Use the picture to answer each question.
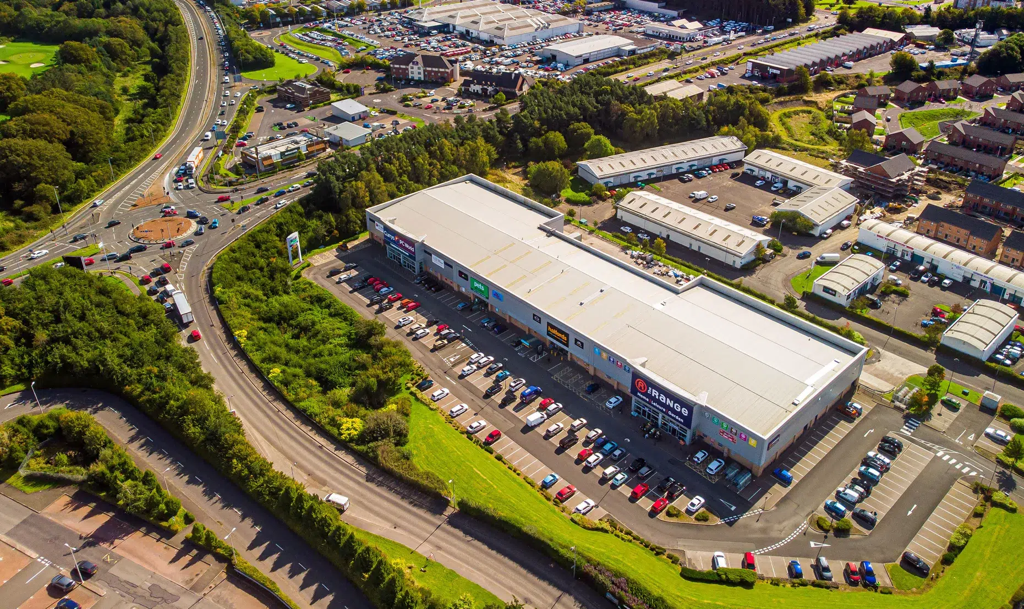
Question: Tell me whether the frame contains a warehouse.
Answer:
Yes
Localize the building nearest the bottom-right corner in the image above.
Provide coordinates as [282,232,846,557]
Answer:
[981,382,1004,412]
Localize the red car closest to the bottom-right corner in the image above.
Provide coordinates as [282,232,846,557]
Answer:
[844,563,861,585]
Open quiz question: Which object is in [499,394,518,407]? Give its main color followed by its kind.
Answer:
black vehicle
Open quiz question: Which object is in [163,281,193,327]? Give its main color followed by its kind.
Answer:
white truck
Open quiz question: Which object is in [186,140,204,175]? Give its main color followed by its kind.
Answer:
white vehicle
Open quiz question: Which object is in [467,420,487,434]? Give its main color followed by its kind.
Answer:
white car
